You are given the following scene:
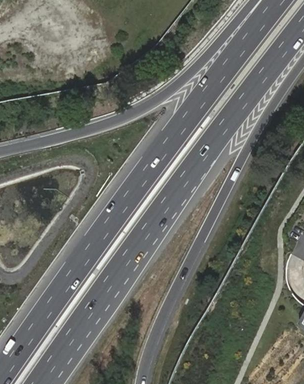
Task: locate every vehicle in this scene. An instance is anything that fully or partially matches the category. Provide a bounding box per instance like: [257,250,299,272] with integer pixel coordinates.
[230,167,242,183]
[180,268,188,280]
[4,338,16,354]
[150,158,160,168]
[4,377,12,384]
[200,145,210,156]
[14,345,24,356]
[141,376,146,384]
[158,218,168,228]
[87,300,96,310]
[70,279,80,290]
[292,226,304,235]
[292,38,304,52]
[136,252,144,263]
[290,232,300,240]
[106,202,116,212]
[200,76,208,86]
